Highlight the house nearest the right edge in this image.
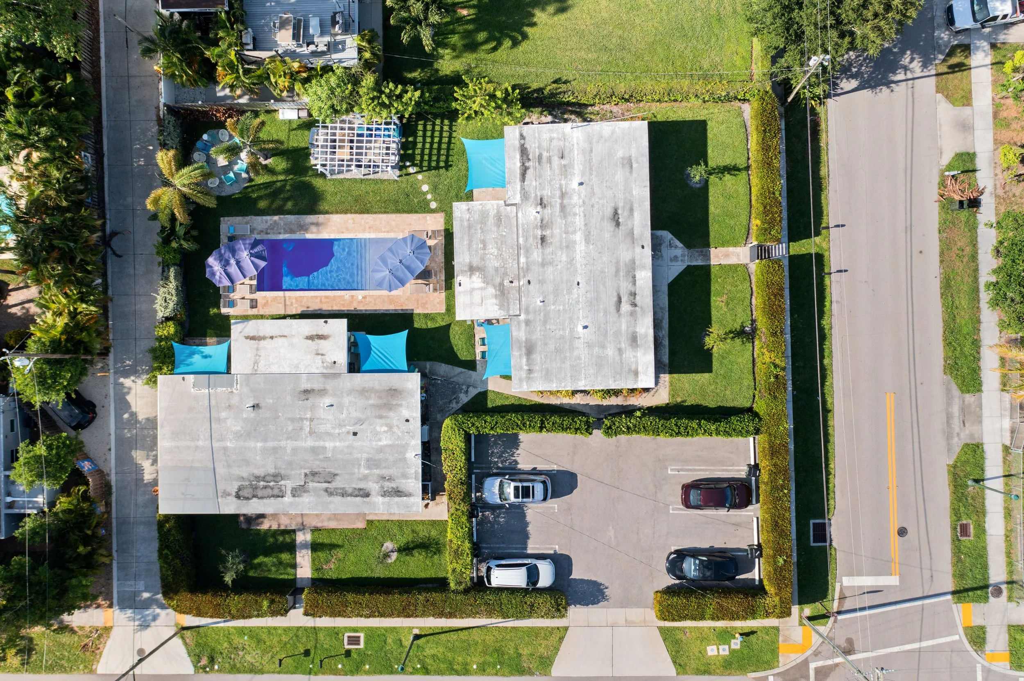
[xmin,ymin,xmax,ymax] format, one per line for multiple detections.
[452,121,655,391]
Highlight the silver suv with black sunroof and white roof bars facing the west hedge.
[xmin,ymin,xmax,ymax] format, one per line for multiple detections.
[482,473,551,507]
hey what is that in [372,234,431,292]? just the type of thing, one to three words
umbrella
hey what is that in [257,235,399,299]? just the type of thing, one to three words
swimming pool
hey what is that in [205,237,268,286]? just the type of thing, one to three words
umbrella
